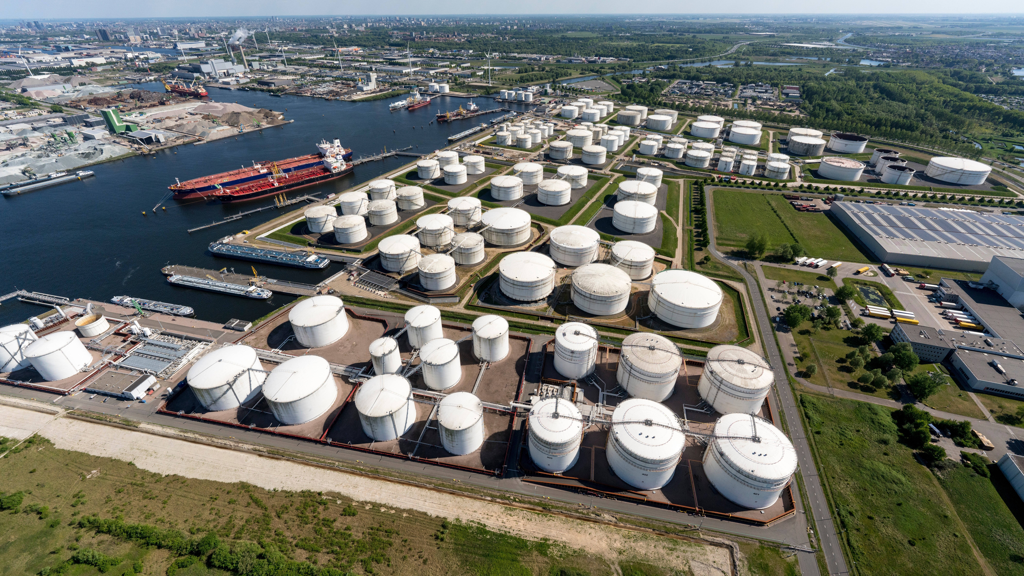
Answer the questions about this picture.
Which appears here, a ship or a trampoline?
ship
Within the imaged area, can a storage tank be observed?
Yes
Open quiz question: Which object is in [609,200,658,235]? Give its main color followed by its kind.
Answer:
white storage tank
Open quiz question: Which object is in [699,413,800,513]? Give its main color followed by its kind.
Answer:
white storage tank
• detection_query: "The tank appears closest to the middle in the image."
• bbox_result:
[496,252,558,303]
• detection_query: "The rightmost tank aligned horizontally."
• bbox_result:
[922,157,993,185]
